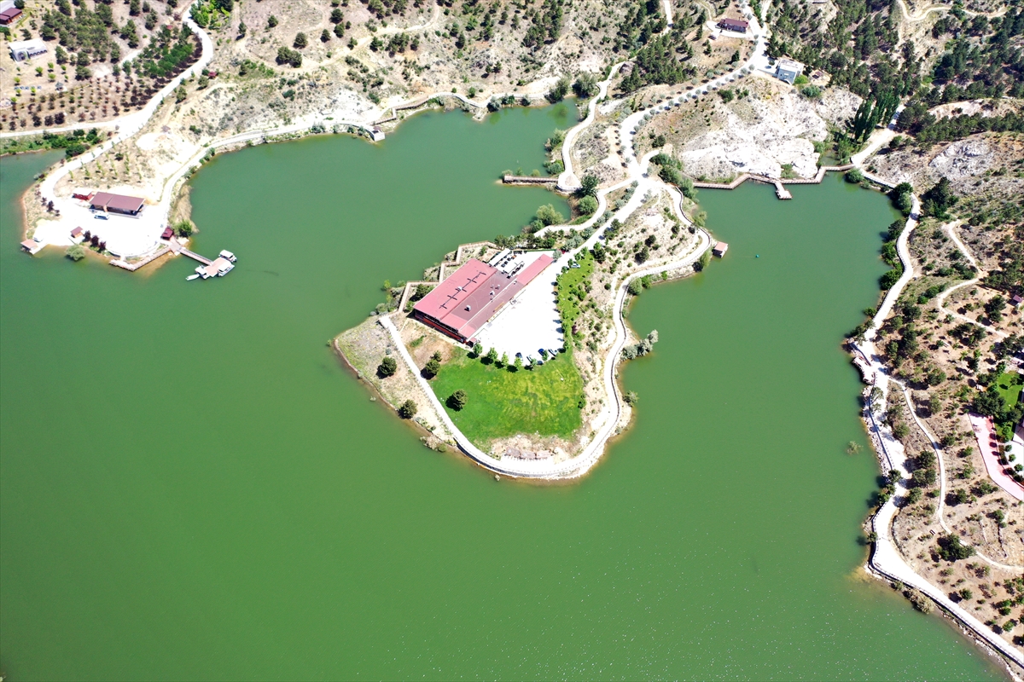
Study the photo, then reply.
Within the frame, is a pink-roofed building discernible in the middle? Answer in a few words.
Yes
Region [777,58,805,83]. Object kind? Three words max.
house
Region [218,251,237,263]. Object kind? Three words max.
boat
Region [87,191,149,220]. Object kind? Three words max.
building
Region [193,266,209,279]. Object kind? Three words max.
boat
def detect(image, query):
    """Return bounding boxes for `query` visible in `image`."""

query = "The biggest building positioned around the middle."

[414,254,554,347]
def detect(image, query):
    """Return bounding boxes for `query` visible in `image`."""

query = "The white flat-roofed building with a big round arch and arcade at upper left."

[8,38,48,61]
